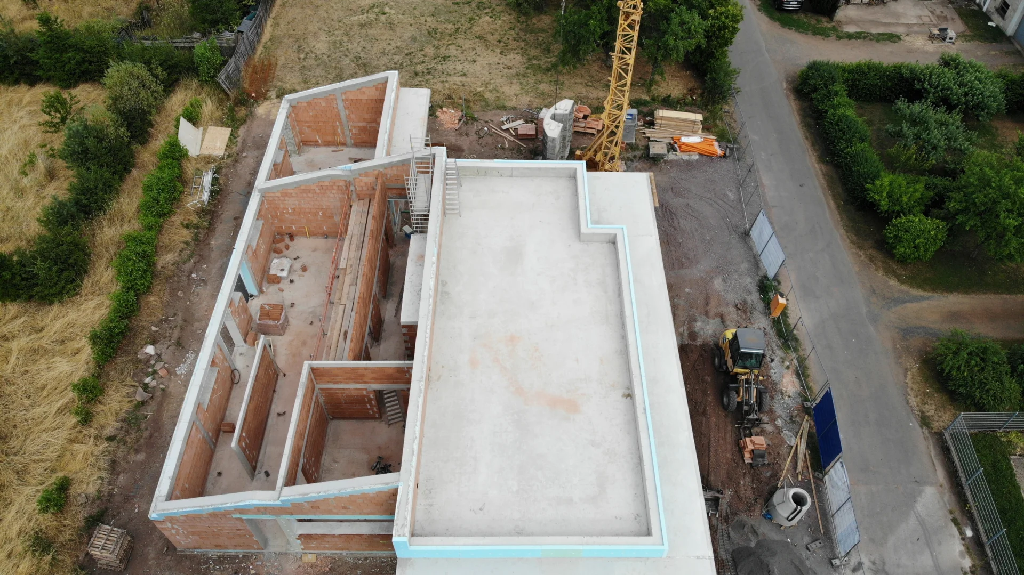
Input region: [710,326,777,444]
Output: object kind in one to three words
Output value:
work vehicle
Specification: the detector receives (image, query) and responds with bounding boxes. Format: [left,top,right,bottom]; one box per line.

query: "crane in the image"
[570,0,647,173]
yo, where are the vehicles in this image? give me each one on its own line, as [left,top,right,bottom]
[710,326,777,444]
[772,0,807,7]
